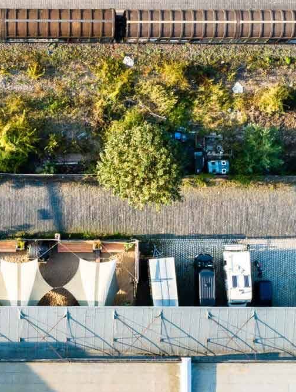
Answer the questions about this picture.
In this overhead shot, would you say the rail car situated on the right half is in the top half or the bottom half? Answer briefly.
top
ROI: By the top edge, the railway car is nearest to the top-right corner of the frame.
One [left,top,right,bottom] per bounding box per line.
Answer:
[117,8,296,45]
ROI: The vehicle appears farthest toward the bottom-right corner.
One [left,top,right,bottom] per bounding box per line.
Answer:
[252,282,273,307]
